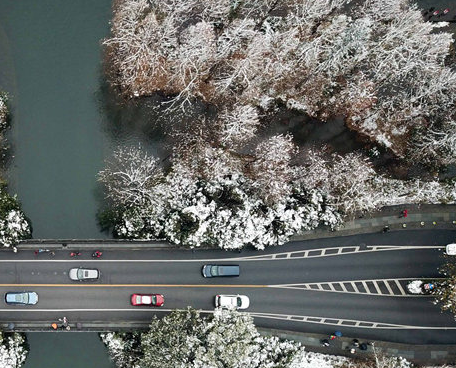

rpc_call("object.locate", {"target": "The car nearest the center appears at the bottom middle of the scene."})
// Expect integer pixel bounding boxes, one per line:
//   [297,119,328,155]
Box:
[200,262,241,279]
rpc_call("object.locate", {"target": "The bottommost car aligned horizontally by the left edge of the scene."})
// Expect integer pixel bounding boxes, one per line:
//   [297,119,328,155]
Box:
[5,290,39,307]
